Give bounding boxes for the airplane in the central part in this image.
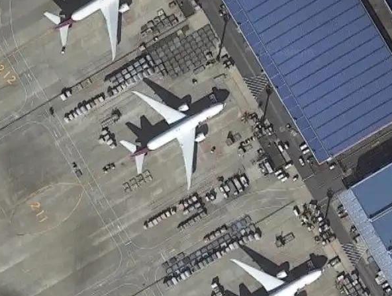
[119,90,224,189]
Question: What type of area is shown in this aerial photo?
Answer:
airport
